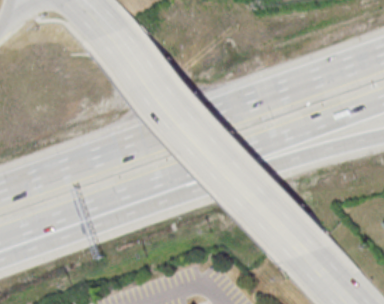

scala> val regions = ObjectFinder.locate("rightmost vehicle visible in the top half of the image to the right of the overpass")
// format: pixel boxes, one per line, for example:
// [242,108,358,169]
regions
[334,104,364,120]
